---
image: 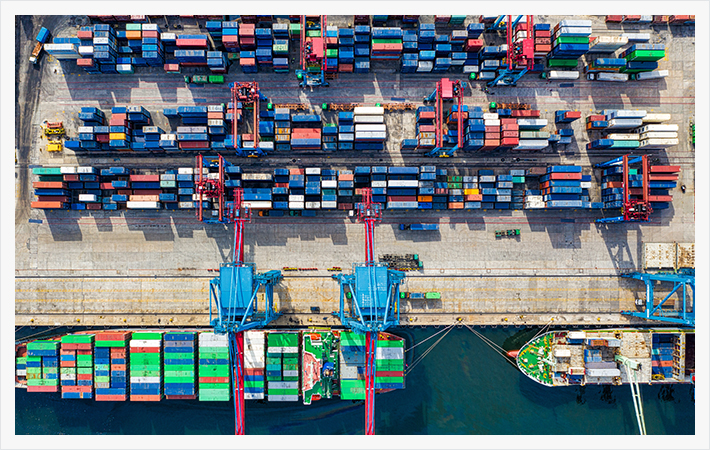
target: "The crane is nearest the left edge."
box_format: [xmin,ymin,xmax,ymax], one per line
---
[196,155,241,227]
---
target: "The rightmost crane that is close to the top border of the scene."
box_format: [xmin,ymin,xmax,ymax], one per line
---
[487,4,535,89]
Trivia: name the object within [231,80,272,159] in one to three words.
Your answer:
container crane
